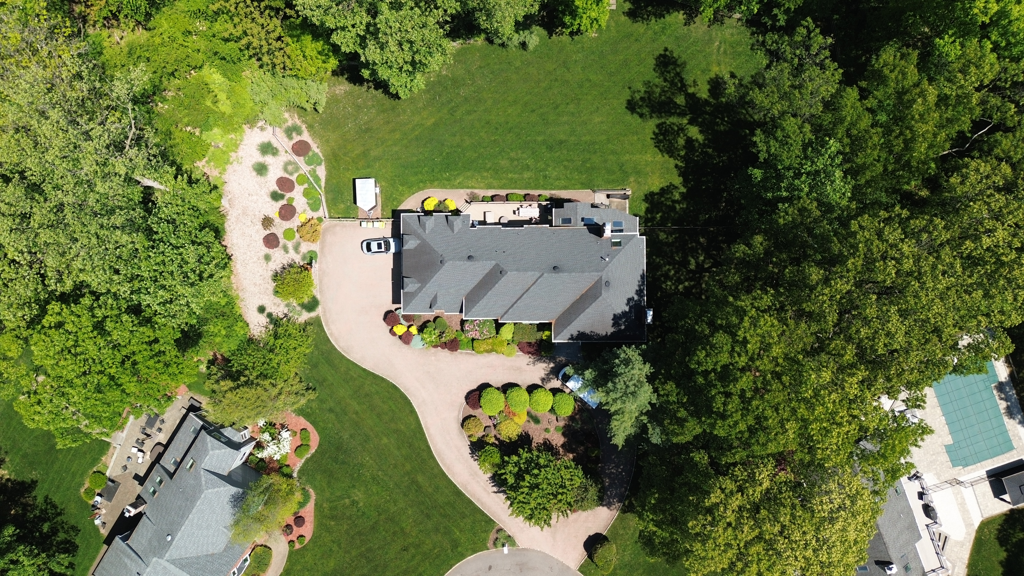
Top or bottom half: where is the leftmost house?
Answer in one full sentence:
The bottom half of the photo is where the leftmost house is.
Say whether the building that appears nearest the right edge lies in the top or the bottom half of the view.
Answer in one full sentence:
Seen from above, the building that appears nearest the right edge lies in the bottom half of the view.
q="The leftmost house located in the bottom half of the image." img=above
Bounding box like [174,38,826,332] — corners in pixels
[94,410,262,576]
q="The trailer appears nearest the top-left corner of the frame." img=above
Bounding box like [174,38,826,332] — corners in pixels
[355,178,380,218]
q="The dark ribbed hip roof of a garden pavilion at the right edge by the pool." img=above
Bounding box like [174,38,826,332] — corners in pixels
[988,470,1024,507]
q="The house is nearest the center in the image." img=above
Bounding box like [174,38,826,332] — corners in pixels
[401,202,653,347]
